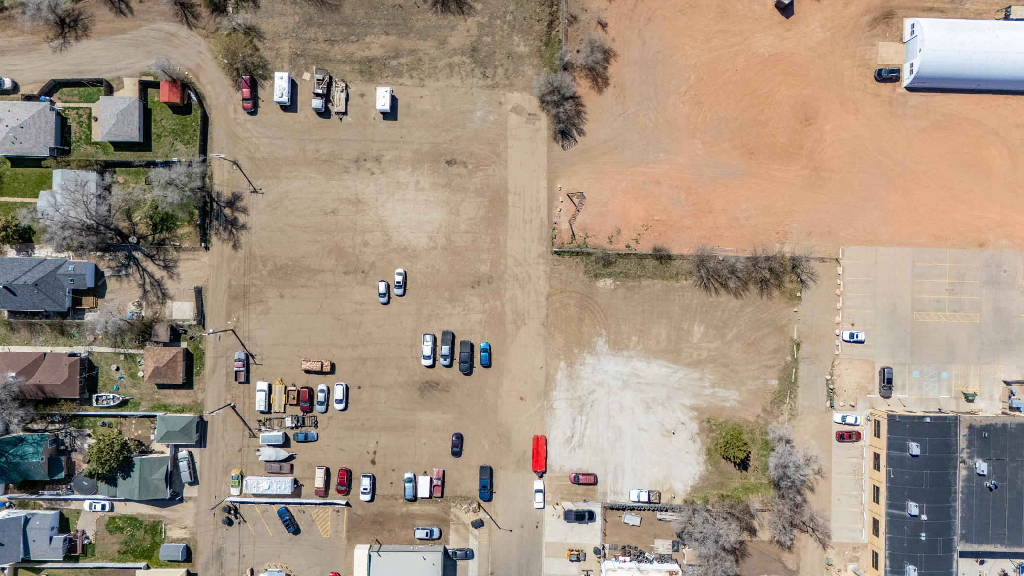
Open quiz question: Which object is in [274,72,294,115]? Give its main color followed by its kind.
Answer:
white trailer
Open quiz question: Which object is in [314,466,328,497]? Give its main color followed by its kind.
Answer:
white vehicle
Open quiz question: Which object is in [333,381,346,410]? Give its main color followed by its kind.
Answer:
white vehicle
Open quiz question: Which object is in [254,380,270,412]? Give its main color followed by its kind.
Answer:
white car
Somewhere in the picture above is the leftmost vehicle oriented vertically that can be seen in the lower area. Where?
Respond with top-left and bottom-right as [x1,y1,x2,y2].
[176,448,195,483]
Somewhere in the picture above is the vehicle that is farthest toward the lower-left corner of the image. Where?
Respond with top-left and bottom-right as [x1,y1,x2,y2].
[84,499,113,513]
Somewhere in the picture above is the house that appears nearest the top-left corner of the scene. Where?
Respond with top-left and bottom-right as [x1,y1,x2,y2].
[0,100,61,156]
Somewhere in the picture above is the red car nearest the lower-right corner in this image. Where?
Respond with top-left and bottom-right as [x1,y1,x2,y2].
[834,430,860,443]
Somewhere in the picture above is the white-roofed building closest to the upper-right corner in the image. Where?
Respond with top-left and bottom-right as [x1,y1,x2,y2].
[905,17,1024,90]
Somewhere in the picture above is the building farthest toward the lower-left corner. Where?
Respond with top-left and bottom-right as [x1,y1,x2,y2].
[0,511,78,563]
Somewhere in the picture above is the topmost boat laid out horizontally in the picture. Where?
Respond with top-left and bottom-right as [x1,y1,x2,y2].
[95,393,131,406]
